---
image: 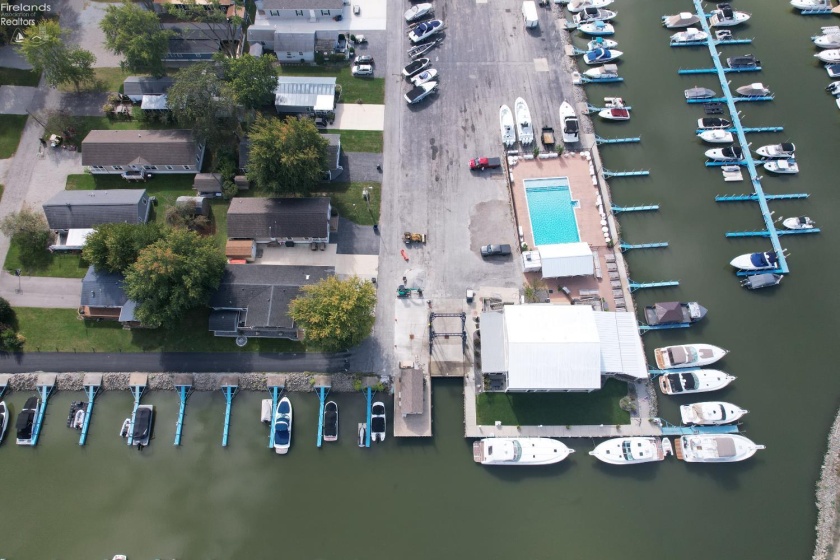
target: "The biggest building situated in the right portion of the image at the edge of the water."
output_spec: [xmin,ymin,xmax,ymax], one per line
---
[477,293,648,398]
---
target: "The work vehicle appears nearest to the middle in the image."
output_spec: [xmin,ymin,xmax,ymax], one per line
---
[395,285,424,298]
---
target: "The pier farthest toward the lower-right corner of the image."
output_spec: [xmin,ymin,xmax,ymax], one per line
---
[661,421,742,438]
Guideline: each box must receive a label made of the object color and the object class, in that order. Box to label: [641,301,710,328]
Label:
gray boat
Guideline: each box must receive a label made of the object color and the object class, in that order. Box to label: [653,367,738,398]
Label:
white boat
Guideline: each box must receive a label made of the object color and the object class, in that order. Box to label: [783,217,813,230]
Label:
white boat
